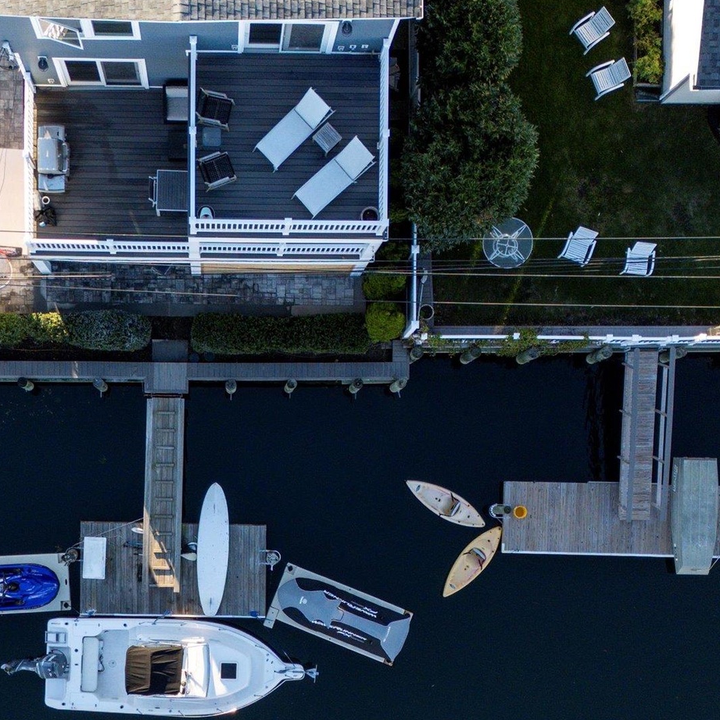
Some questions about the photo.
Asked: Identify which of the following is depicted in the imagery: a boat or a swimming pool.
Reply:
boat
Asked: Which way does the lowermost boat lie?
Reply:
from side to side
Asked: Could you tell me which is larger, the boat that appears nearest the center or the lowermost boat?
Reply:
the lowermost boat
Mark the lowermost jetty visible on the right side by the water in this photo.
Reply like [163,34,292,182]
[486,480,674,559]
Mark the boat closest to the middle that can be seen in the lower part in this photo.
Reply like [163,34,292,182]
[406,480,485,526]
